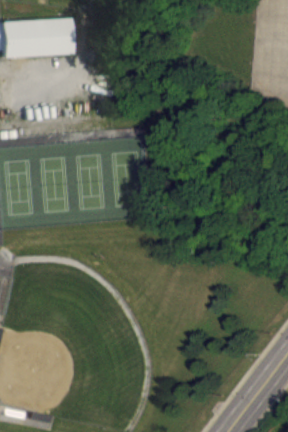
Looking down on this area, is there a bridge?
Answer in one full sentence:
No, the picture doesn't show any bridge.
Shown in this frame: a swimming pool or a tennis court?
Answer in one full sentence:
There is a tennis court in the scene.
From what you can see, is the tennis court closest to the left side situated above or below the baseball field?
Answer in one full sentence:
The tennis court closest to the left side is found above the baseball field in the photo.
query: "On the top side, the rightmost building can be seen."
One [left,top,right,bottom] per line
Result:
[3,16,78,58]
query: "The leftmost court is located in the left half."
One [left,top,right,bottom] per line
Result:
[4,159,32,215]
